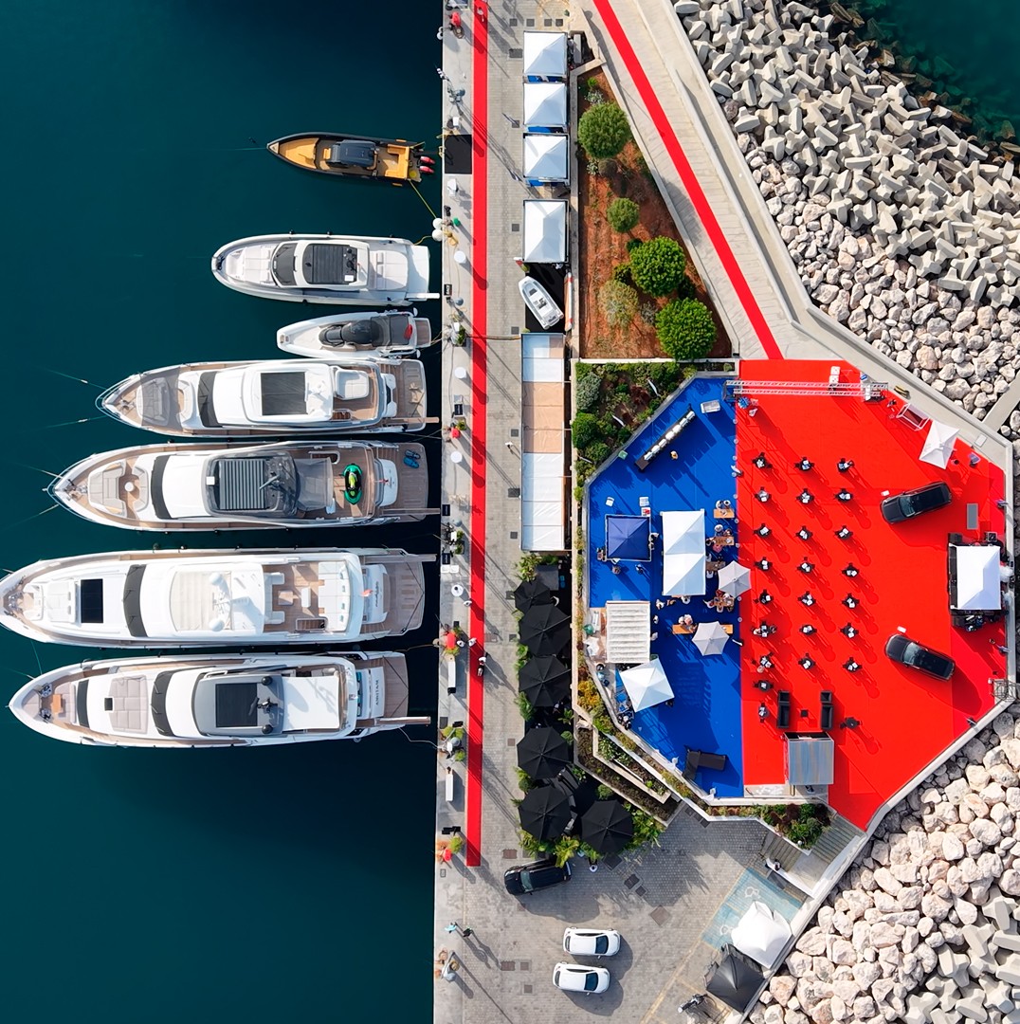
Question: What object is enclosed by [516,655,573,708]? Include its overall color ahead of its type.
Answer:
black umbrella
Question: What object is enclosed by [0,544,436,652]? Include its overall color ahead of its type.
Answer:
white boat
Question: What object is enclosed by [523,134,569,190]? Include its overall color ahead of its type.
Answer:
white tent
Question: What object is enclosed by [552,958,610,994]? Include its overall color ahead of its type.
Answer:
white car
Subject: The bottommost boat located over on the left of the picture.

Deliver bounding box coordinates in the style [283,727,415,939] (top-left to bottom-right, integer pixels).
[9,646,430,753]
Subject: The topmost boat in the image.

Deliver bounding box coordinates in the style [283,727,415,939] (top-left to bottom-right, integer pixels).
[267,132,435,186]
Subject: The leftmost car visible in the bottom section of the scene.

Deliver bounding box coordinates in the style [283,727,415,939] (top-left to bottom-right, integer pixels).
[504,857,574,895]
